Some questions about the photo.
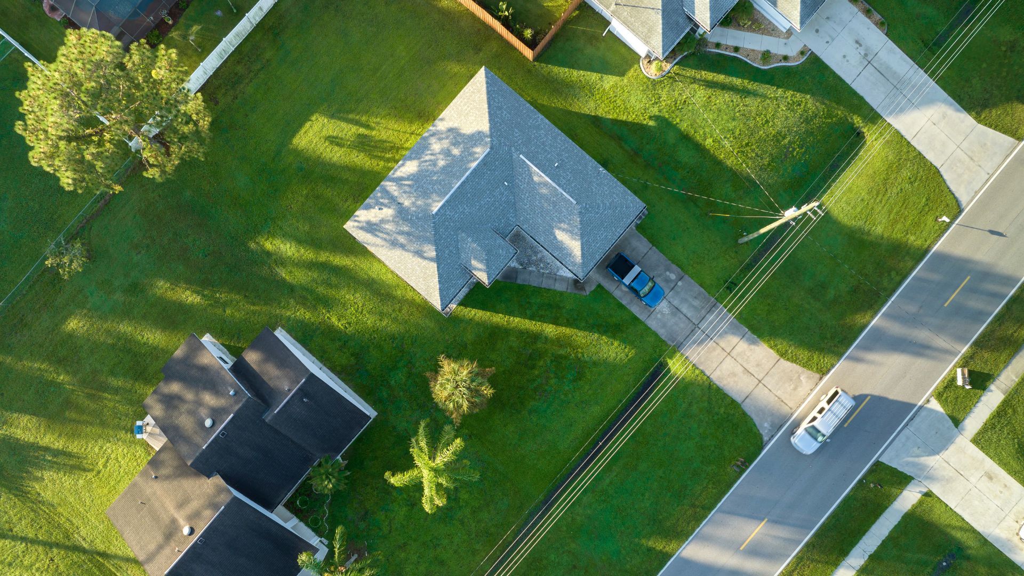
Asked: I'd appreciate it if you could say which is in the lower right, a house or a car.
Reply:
car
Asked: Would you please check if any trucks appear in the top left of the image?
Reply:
No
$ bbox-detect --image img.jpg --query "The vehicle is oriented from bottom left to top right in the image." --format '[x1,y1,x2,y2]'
[791,387,856,452]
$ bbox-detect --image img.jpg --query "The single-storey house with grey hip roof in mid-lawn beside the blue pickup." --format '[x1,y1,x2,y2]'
[342,66,648,313]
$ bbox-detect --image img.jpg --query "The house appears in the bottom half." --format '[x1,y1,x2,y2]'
[106,327,373,576]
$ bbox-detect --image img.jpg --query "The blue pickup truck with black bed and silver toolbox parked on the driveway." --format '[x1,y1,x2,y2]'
[604,251,664,308]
